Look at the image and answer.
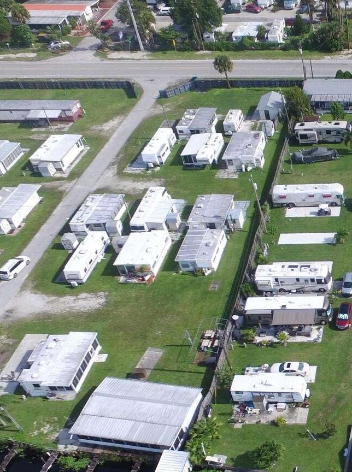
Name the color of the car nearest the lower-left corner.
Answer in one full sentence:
The color of the car nearest the lower-left corner is white.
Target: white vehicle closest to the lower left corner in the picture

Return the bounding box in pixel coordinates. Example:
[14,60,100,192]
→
[0,257,34,281]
